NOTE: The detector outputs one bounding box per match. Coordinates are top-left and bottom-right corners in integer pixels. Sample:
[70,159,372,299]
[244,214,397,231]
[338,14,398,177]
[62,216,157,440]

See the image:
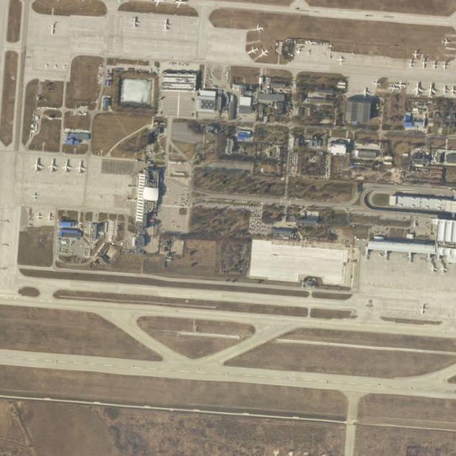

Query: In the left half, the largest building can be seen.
[131,168,158,222]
